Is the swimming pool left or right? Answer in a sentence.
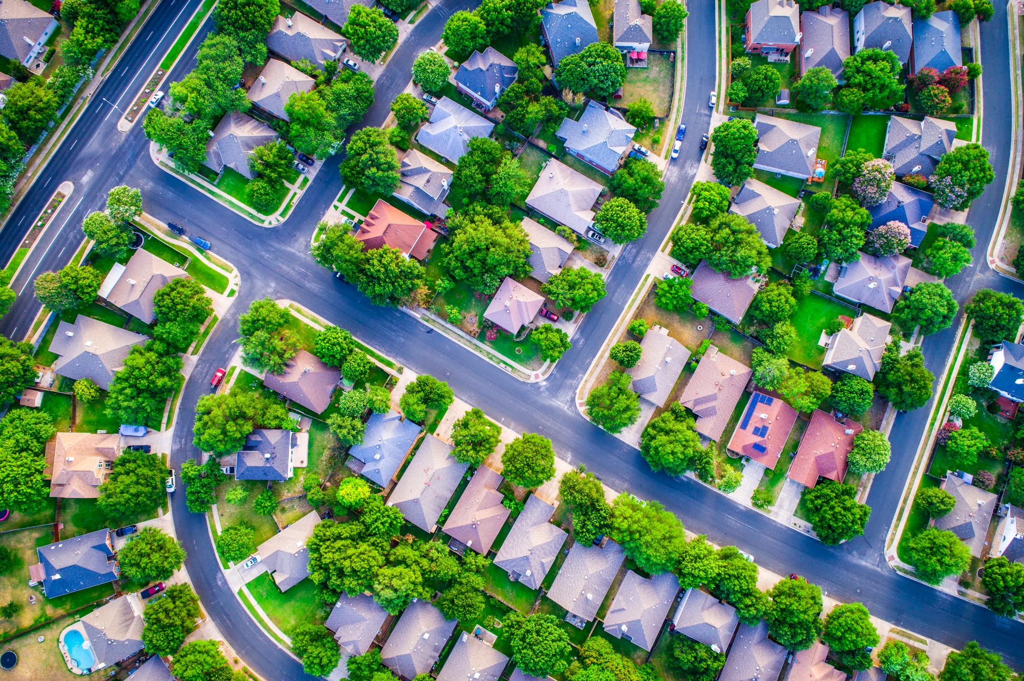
You can find the swimming pool on the left side of the picture.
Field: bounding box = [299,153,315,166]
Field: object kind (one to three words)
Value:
vehicle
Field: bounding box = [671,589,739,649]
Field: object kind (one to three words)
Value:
house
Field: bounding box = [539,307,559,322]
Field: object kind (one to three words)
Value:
vehicle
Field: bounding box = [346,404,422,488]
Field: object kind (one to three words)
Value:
house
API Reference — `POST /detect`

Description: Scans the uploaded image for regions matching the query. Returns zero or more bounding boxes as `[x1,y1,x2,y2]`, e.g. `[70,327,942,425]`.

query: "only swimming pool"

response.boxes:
[59,622,100,675]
